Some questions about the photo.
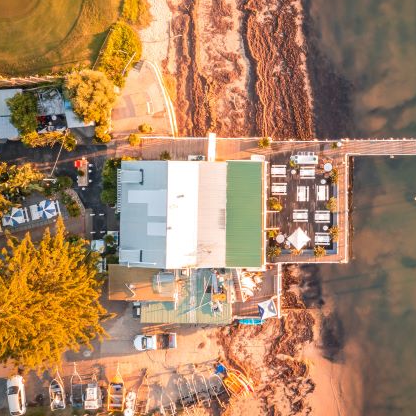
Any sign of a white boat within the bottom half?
Yes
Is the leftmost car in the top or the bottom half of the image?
bottom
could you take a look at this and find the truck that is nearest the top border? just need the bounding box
[137,331,182,353]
